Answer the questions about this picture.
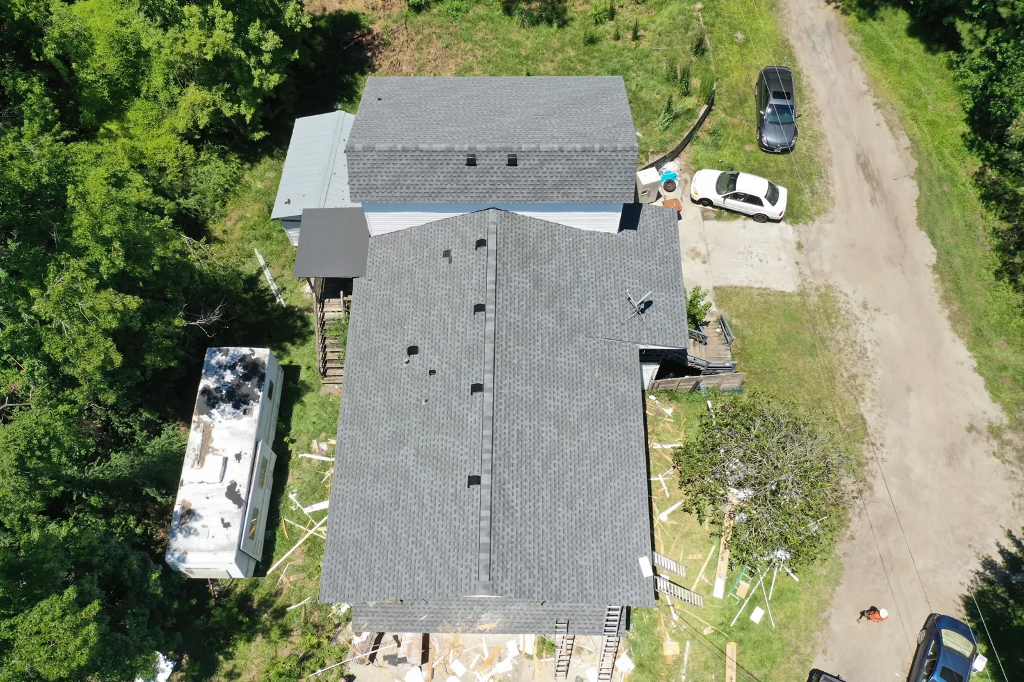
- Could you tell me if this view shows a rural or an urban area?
urban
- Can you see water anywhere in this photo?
No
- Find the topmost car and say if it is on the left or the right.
right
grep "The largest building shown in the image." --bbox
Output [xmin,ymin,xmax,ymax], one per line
[294,76,689,635]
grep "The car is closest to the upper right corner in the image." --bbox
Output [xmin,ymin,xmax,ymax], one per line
[753,67,803,150]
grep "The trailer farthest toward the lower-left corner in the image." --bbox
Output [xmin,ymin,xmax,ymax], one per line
[170,349,284,613]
